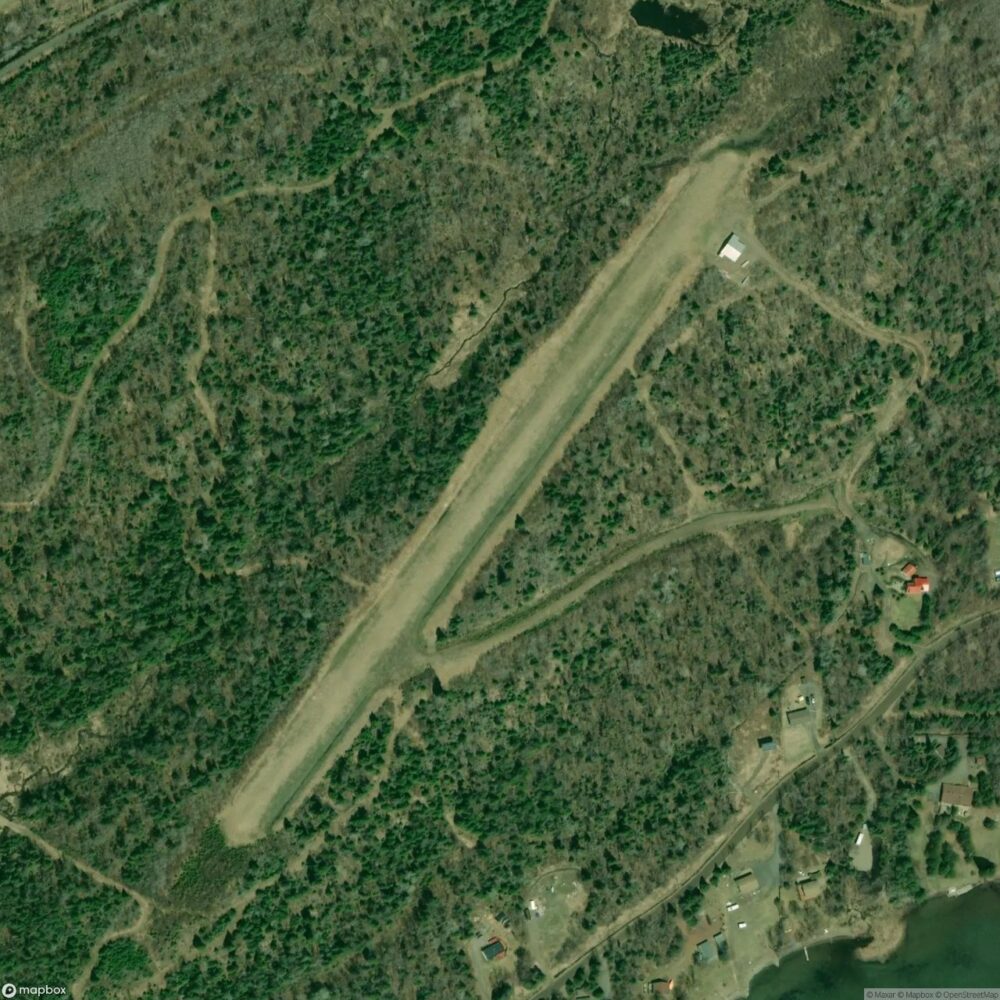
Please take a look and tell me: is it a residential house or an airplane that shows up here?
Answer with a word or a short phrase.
residential house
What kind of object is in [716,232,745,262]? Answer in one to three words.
hangar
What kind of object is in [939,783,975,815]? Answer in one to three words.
house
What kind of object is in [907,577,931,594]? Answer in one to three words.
house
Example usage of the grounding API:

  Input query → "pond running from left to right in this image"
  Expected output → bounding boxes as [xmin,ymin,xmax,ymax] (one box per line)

[630,0,710,39]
